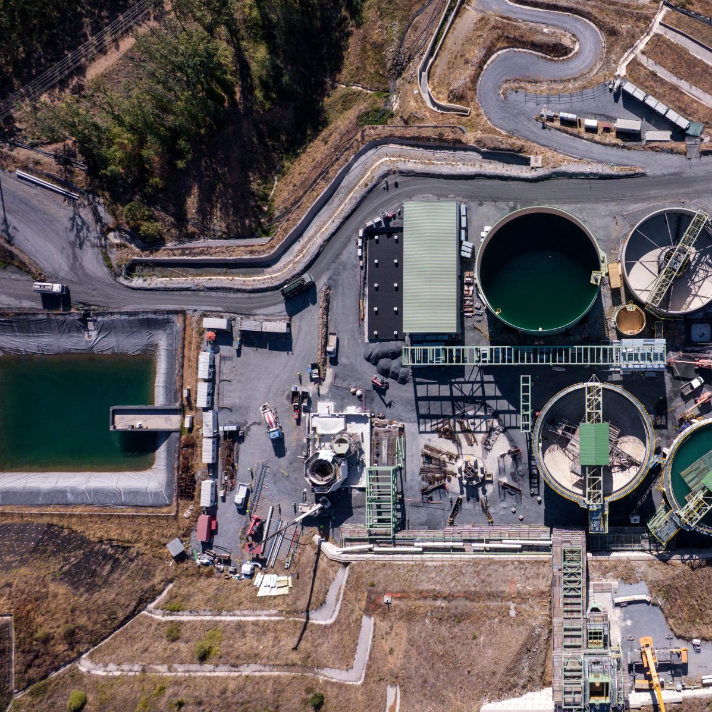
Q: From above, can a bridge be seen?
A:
Yes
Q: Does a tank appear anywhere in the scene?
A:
Yes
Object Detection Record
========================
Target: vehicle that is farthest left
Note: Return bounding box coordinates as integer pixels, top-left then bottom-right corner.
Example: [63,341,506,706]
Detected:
[31,282,70,295]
